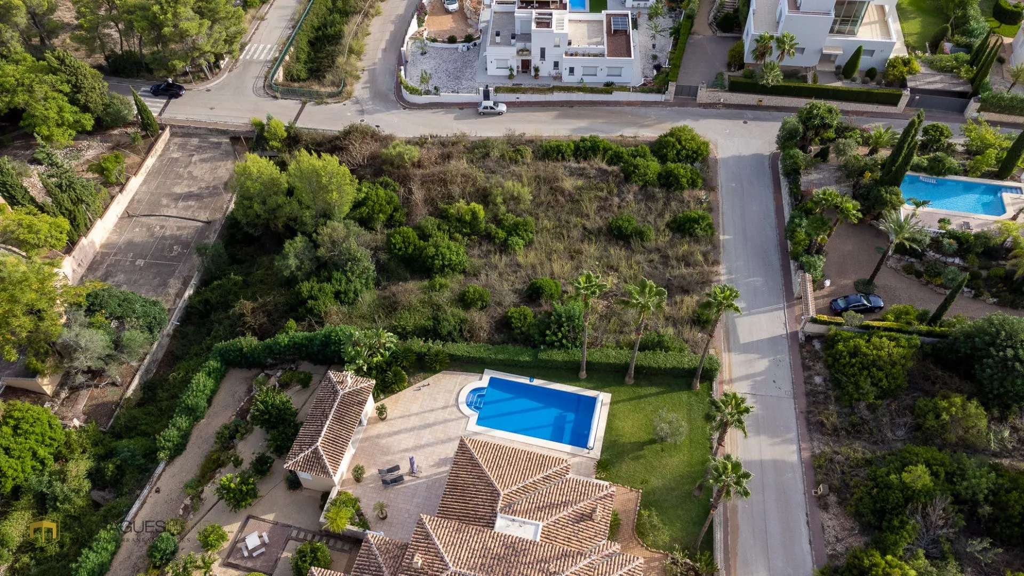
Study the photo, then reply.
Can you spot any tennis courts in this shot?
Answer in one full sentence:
Yes, a tennis court appears in the view.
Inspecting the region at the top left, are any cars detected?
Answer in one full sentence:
Yes, a car appears at the top left.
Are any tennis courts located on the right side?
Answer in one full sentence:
No, on the right side there is no tennis court.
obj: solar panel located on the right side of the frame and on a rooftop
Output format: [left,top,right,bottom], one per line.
[610,17,629,33]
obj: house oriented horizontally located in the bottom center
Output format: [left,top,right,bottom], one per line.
[304,435,655,576]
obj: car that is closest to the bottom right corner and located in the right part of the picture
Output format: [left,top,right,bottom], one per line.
[829,291,884,314]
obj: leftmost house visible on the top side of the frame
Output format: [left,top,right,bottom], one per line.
[486,0,633,82]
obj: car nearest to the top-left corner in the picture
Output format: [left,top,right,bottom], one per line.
[148,81,186,98]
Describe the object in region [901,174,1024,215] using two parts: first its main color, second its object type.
blue swimming pool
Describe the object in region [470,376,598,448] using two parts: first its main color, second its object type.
blue swimming pool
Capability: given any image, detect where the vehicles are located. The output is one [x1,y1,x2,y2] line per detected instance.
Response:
[148,81,186,98]
[829,291,884,314]
[476,100,506,115]
[443,0,458,11]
